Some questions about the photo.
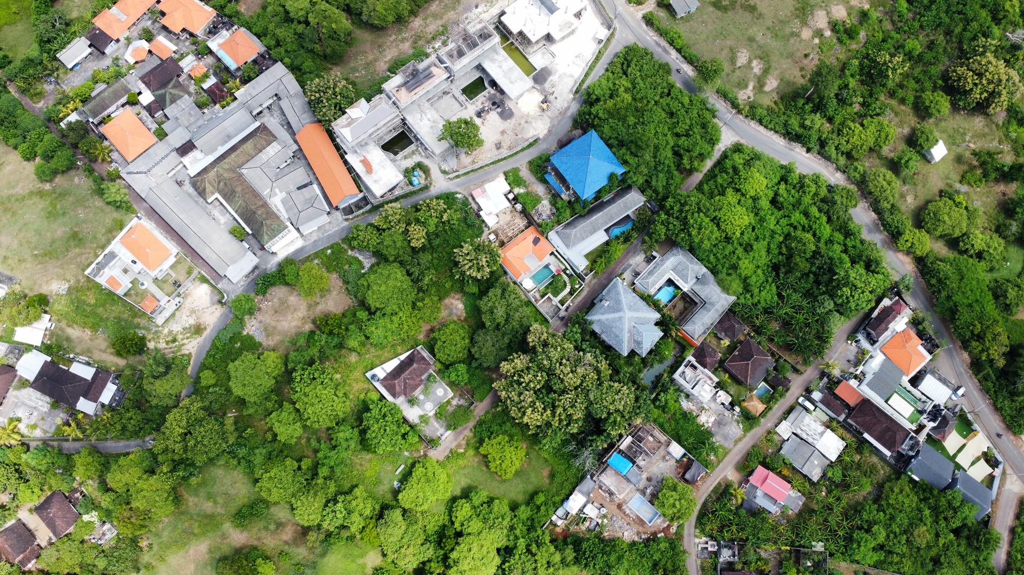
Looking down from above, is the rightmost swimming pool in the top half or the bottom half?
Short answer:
bottom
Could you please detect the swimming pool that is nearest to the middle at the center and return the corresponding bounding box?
[529,261,556,288]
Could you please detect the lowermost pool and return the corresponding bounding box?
[626,492,660,525]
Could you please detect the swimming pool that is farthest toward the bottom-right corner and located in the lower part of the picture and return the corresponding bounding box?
[895,384,919,407]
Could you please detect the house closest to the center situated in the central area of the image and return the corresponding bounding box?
[501,225,556,280]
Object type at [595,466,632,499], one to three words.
house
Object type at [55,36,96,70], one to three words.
shed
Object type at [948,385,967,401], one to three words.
car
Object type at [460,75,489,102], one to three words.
swimming pool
